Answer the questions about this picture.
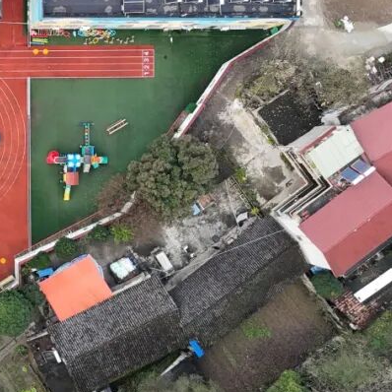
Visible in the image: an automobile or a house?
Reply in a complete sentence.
The one in the frame is a house.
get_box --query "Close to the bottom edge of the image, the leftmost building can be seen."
[46,276,188,392]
